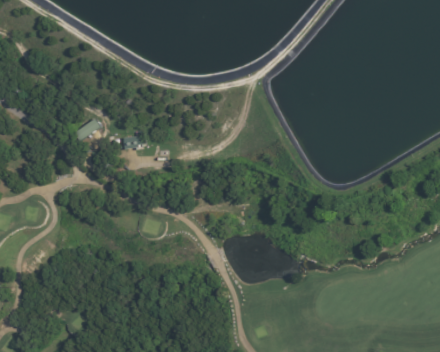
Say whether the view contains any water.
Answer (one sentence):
Yes, there is water in the image.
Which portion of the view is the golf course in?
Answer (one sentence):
The golf course is located in the bottom right region of the scene.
